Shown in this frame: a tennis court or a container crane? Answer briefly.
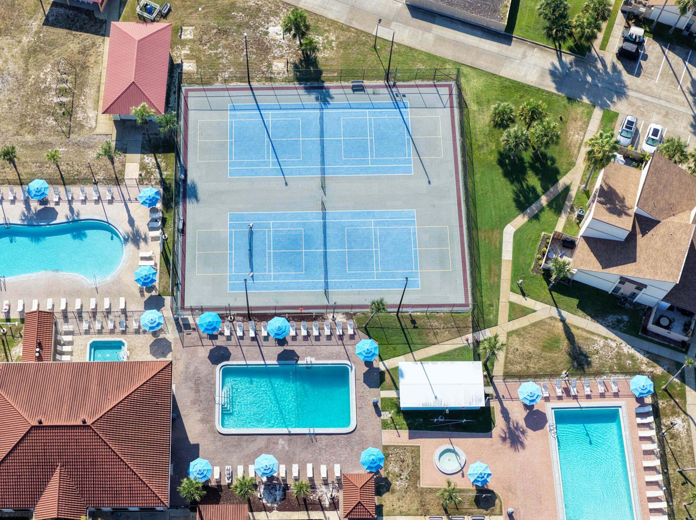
tennis court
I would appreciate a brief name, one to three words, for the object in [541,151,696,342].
house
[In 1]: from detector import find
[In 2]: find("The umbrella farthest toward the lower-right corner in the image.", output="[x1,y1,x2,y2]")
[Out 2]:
[630,375,653,397]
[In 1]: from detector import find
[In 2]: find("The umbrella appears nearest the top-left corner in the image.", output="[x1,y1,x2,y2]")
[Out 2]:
[28,180,50,200]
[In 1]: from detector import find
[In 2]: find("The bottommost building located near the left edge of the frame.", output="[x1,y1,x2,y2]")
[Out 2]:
[0,359,173,520]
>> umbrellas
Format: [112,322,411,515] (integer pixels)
[28,180,50,200]
[356,344,378,366]
[135,265,158,285]
[267,317,288,338]
[197,313,220,334]
[189,460,213,481]
[360,448,384,470]
[141,312,164,332]
[137,188,158,207]
[630,375,653,397]
[256,456,278,479]
[518,384,541,406]
[466,464,490,488]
